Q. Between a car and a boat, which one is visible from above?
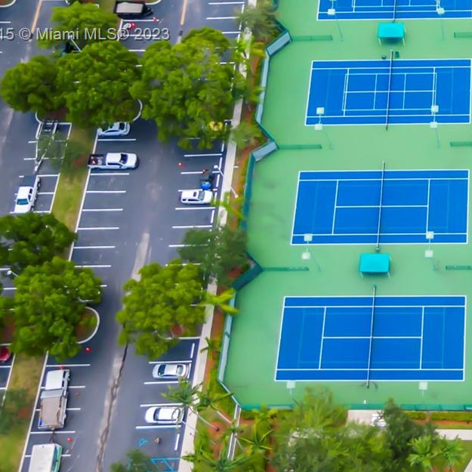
car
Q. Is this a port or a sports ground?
sports ground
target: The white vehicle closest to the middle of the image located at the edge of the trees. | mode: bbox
[178,189,214,205]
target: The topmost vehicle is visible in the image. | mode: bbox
[112,1,153,18]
